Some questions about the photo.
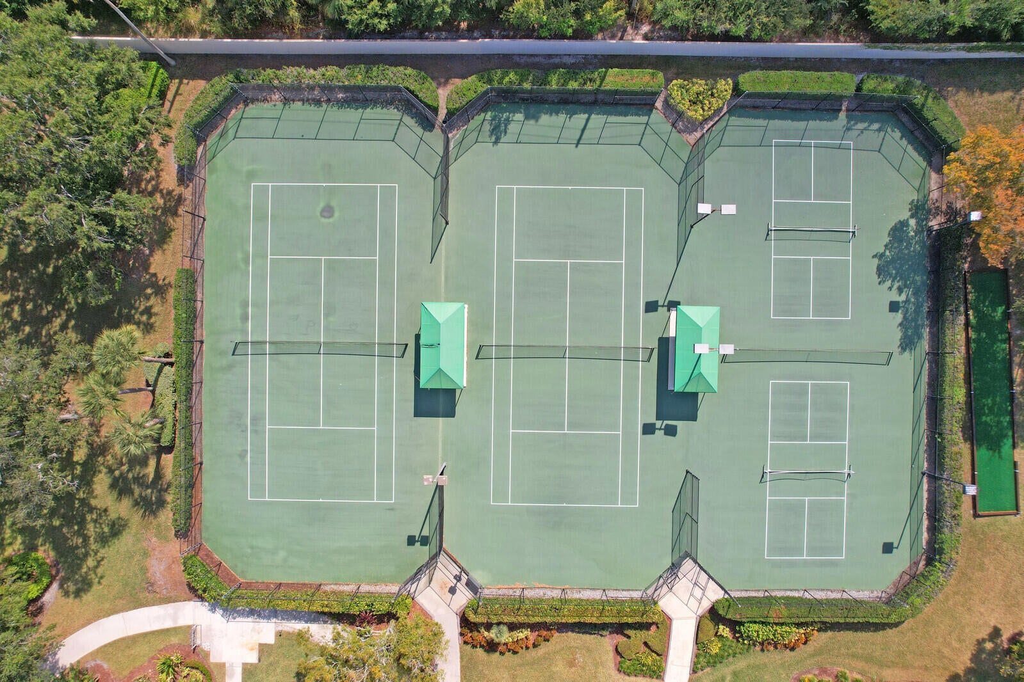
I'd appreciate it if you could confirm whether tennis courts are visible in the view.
Yes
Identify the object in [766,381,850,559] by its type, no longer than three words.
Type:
sports court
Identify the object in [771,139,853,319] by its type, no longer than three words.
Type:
sports court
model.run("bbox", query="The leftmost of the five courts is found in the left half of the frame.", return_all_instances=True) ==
[201,102,449,585]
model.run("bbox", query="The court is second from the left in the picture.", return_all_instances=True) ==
[443,103,692,590]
